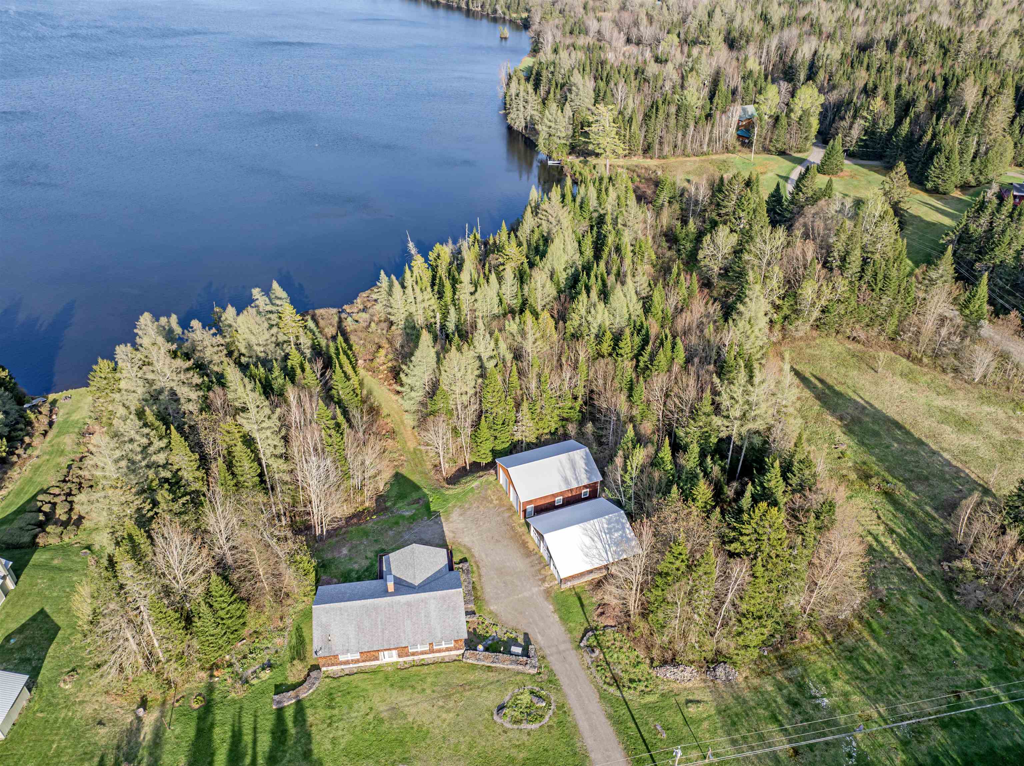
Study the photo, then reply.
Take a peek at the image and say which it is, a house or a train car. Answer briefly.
house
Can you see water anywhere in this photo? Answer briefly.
Yes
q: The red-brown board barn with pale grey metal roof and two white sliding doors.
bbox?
[495,440,603,521]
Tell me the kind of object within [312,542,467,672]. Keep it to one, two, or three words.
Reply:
house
